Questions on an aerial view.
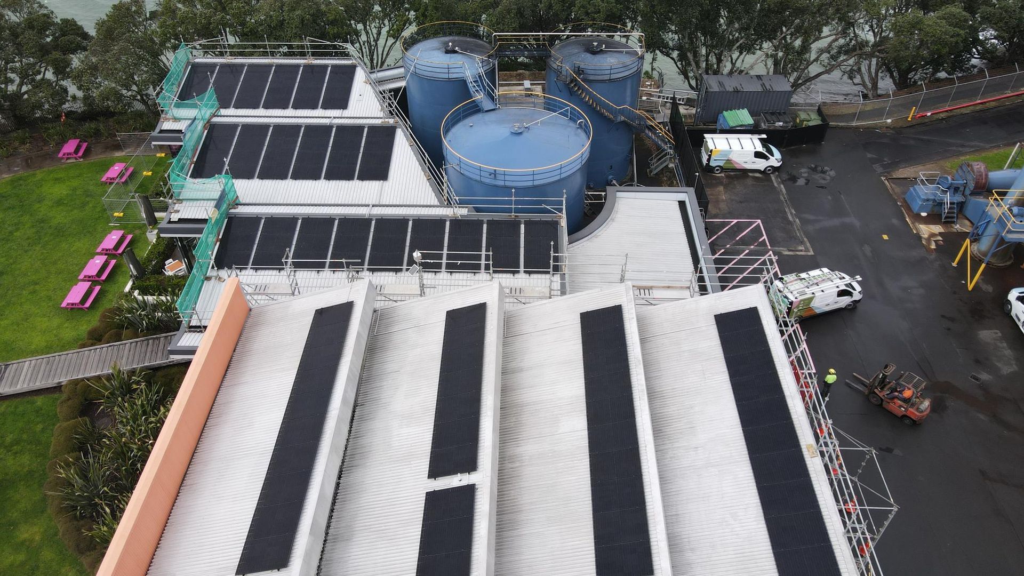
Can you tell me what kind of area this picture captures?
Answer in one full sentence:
What you see here is an industrial area.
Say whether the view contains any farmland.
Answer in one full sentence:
No, there's no farmland in this view.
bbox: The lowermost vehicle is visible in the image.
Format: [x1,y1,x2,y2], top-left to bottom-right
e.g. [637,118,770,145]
[847,361,934,427]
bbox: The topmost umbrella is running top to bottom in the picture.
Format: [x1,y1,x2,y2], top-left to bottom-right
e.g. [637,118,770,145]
[138,200,161,242]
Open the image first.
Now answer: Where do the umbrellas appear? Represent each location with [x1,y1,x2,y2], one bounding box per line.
[117,241,140,271]
[138,200,161,242]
